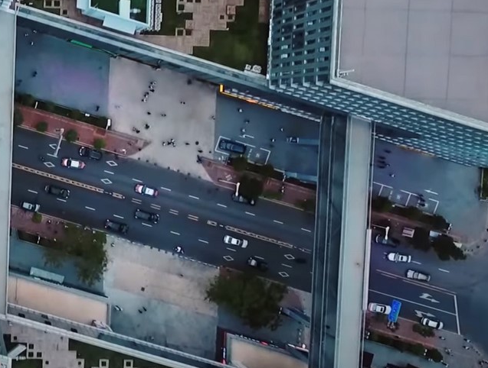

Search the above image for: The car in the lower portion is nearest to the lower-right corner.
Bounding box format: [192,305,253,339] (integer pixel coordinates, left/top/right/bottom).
[417,315,443,330]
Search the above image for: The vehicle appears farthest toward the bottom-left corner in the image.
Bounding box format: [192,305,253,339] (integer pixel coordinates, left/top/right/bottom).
[19,200,41,213]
